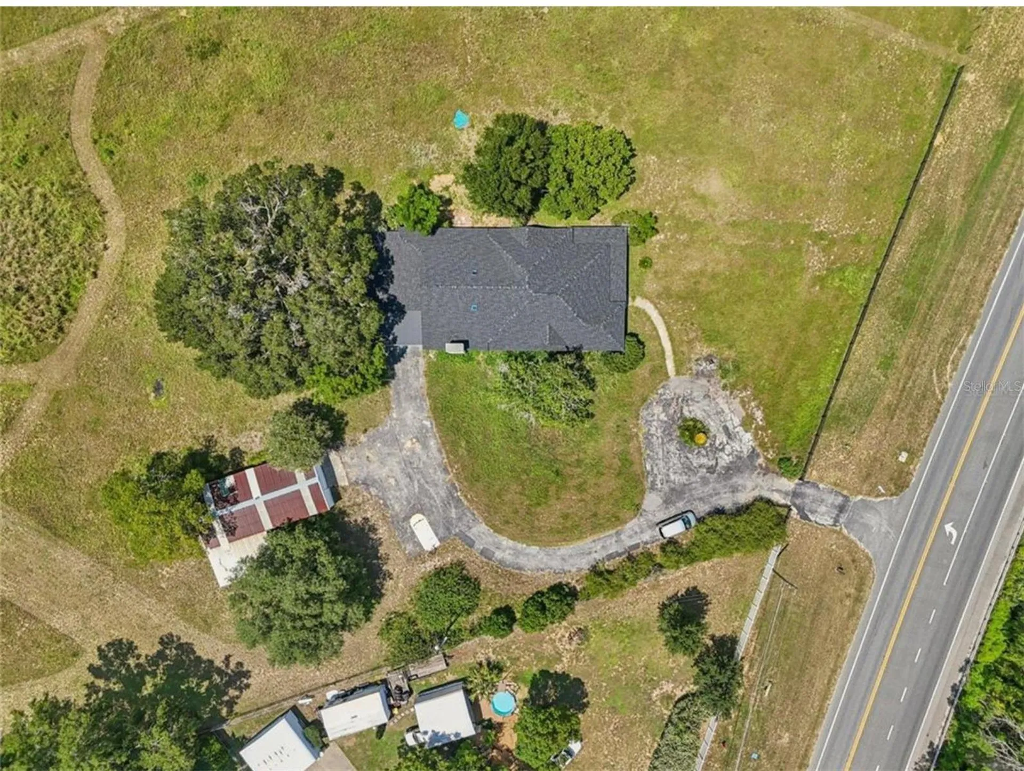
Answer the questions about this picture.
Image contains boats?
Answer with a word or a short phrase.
Yes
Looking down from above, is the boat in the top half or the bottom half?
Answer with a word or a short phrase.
bottom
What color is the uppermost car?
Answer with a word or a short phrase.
white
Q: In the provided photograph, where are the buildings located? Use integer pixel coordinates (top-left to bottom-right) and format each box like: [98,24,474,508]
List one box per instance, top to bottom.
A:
[387,226,629,355]
[200,449,334,587]
[415,681,475,747]
[321,685,390,739]
[240,710,320,771]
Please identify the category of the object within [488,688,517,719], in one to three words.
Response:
swimming pool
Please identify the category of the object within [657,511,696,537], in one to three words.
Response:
car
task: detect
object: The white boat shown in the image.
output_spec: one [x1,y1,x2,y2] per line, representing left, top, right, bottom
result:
[412,513,441,553]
